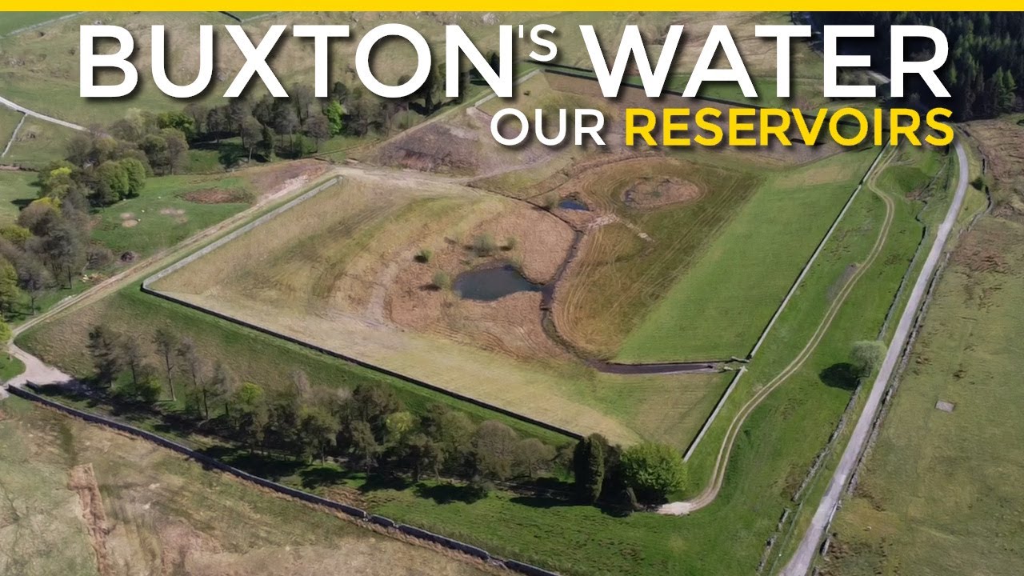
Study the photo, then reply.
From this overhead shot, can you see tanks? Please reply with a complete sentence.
No, there appears to be no tank in this shot.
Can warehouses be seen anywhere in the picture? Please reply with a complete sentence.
No, the frame has no warehouse in it.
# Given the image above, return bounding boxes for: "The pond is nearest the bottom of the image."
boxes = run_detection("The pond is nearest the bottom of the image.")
[454,267,547,301]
